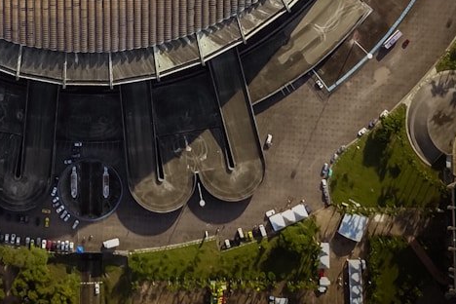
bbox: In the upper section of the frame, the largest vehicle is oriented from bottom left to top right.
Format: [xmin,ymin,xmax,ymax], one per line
[382,27,402,50]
